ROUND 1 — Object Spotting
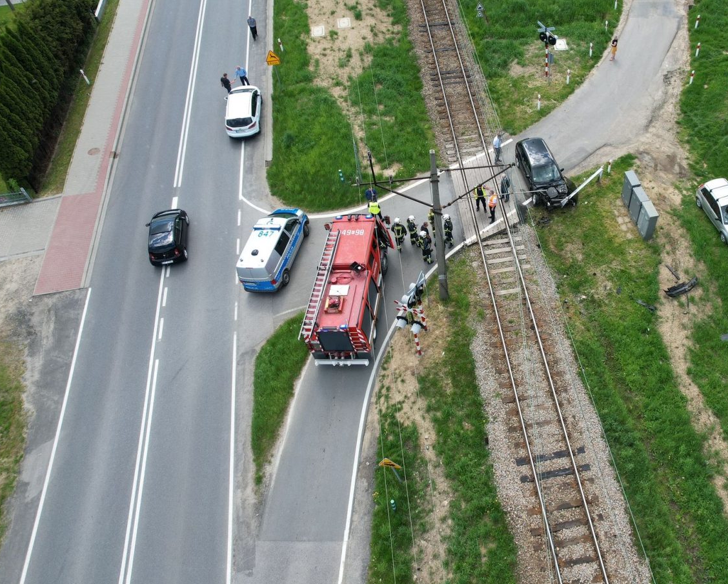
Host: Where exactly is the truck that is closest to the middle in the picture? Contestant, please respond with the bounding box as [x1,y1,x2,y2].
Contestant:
[298,214,402,374]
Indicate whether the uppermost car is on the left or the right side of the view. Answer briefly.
left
